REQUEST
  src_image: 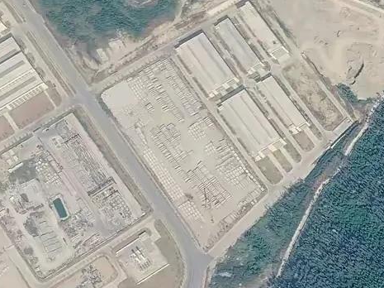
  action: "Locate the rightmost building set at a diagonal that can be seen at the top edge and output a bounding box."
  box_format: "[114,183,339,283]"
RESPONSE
[239,2,289,66]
